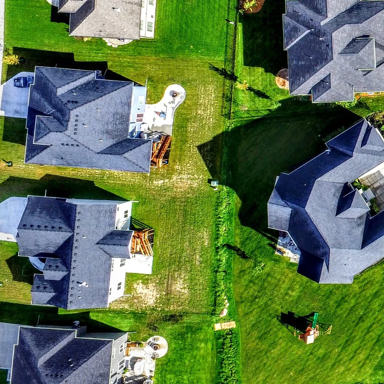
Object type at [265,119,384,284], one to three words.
house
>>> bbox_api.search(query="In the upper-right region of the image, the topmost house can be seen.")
[282,0,384,103]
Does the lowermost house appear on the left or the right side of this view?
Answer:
left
